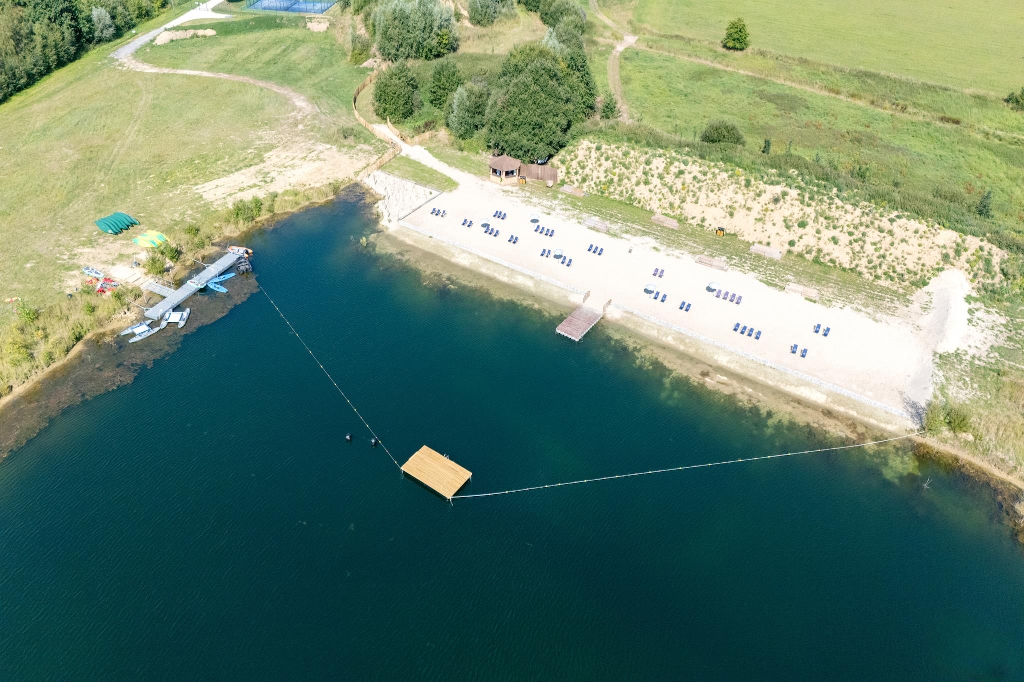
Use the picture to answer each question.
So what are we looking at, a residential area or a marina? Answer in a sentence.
This looks like a marina.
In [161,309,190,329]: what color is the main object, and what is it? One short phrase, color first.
white boat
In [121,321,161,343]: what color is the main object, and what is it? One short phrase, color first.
white boat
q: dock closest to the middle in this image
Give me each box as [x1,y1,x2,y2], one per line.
[555,306,602,345]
